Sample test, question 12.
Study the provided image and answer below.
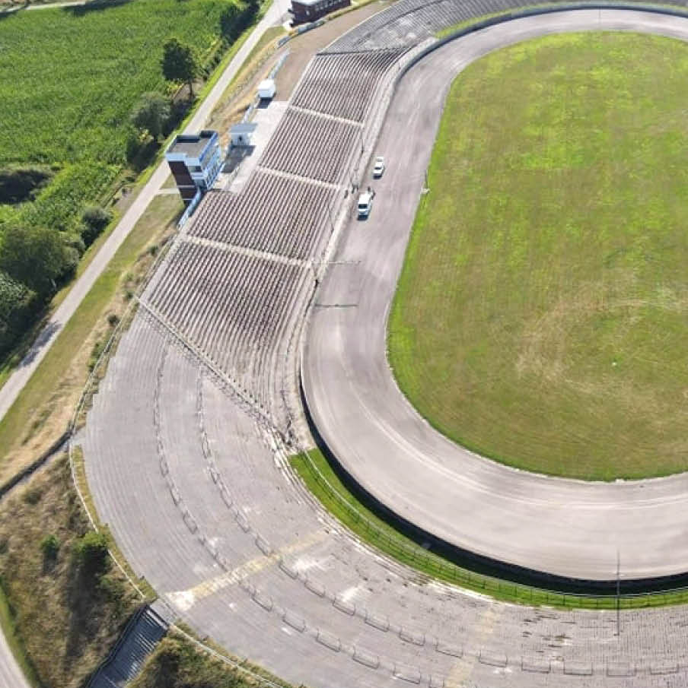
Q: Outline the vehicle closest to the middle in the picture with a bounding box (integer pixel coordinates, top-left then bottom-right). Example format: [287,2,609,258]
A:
[355,196,371,217]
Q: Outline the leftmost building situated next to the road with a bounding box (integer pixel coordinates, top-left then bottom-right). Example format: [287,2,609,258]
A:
[163,126,233,198]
